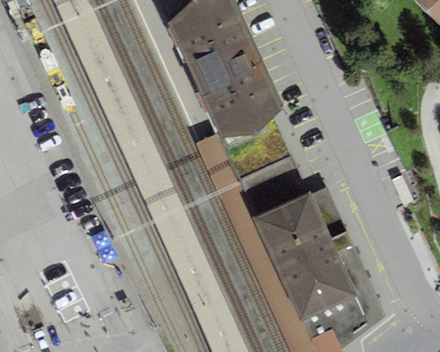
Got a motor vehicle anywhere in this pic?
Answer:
Yes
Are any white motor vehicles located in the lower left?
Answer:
Yes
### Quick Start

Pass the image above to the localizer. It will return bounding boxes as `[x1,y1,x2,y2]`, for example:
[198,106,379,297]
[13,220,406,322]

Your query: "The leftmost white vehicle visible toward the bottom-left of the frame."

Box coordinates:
[33,328,50,352]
